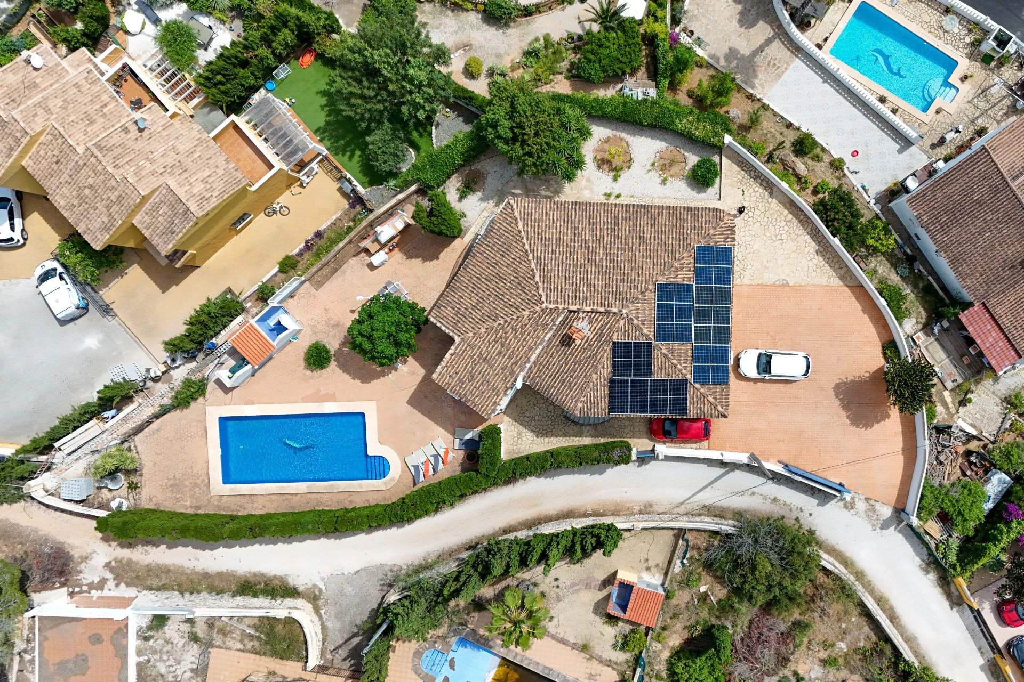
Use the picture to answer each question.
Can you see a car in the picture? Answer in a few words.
Yes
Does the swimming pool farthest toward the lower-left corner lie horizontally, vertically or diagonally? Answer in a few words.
horizontally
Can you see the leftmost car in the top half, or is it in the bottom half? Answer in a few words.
top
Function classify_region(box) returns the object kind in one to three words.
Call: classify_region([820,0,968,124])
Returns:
swimming pool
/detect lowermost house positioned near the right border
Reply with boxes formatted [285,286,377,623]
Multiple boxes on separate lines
[877,112,1024,375]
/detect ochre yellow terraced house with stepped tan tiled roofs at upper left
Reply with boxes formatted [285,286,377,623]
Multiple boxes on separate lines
[0,43,294,272]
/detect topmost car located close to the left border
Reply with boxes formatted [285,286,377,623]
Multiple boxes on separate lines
[0,185,31,253]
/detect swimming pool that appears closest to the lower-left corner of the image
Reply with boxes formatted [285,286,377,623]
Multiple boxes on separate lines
[207,401,401,496]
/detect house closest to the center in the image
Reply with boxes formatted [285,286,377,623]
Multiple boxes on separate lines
[427,195,736,423]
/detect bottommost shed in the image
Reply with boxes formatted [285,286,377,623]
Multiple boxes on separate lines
[602,561,665,629]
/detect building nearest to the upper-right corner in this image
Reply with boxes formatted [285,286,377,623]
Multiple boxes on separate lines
[964,27,1016,69]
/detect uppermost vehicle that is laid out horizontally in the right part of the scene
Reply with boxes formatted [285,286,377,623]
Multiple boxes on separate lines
[735,347,809,382]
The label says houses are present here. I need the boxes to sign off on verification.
[877,112,1024,375]
[427,195,736,423]
[0,43,294,272]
